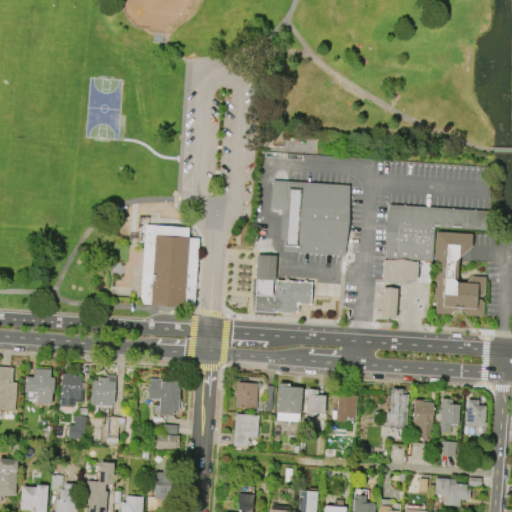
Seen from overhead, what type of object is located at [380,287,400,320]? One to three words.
building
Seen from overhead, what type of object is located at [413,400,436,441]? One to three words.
house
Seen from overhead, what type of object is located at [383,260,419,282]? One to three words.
building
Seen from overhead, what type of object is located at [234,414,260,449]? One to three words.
house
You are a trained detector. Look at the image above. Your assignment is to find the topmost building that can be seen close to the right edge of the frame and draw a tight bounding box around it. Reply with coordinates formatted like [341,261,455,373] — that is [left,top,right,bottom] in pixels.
[386,205,490,260]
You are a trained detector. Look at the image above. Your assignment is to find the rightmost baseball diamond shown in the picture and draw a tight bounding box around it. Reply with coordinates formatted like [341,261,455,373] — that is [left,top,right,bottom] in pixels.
[124,0,201,43]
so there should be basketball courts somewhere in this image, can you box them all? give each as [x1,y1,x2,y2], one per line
[86,76,126,142]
